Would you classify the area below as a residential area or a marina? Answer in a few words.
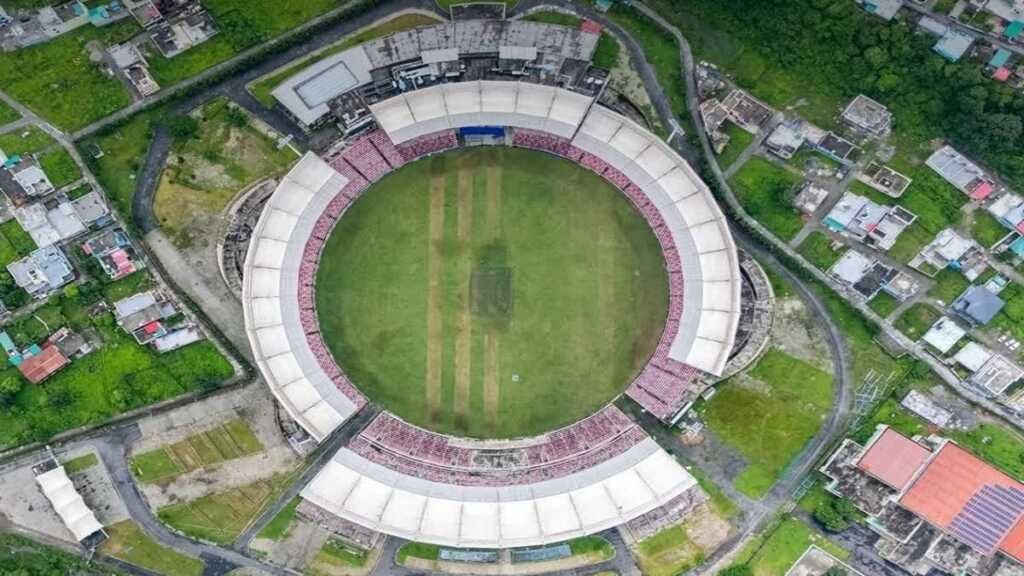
residential area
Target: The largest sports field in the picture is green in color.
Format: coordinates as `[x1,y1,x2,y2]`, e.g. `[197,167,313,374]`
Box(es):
[316,146,668,438]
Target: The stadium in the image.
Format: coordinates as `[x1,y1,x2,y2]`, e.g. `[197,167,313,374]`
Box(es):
[217,72,774,549]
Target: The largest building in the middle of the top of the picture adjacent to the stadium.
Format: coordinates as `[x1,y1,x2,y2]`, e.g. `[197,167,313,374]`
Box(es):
[272,21,608,133]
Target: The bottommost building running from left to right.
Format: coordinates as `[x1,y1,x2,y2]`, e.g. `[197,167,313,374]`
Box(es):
[784,543,862,576]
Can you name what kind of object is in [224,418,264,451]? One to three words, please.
sports field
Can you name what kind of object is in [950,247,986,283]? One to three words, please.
house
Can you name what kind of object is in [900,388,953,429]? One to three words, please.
shed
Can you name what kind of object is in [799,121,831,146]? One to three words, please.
house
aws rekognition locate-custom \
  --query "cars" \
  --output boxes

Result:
[1004,338,1014,347]
[105,66,114,76]
[19,130,30,139]
[997,334,1007,343]
[935,298,946,307]
[1009,343,1019,352]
